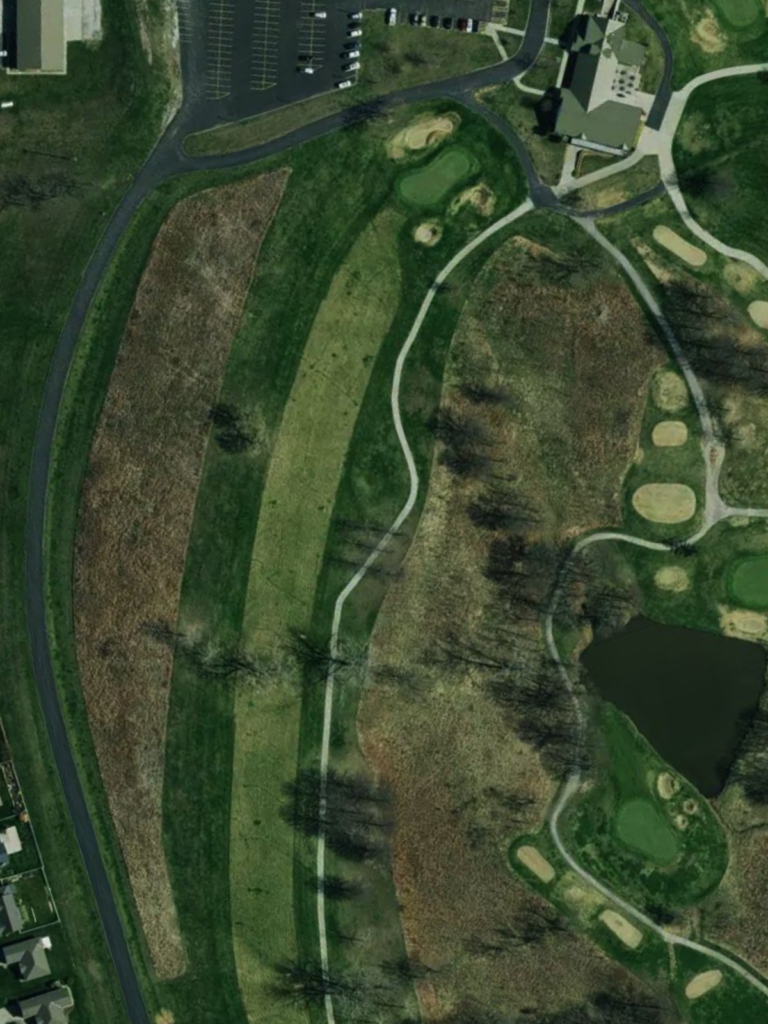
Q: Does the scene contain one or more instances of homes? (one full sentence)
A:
Yes, there's a home here.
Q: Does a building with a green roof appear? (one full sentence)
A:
Yes, the frame does contain a building with a green roof.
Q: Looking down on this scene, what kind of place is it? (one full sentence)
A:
This image shows a golf course.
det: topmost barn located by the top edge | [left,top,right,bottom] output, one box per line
[16,0,63,68]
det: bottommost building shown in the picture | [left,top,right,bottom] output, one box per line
[18,987,73,1024]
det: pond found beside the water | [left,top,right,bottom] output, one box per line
[577,613,768,802]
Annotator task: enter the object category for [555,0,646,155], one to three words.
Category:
building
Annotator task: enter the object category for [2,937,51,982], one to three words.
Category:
house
